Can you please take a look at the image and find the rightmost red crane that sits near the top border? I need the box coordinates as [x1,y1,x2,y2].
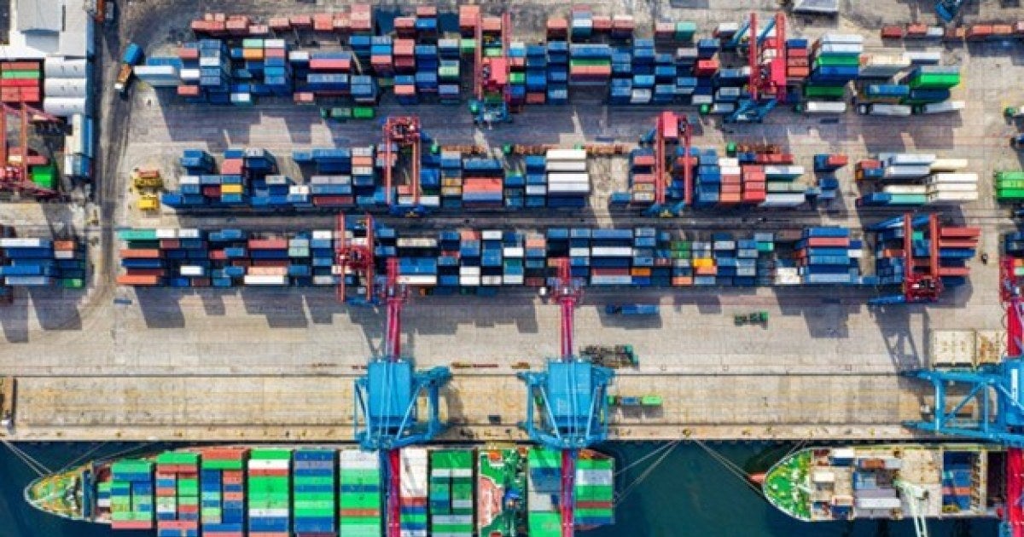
[726,12,785,125]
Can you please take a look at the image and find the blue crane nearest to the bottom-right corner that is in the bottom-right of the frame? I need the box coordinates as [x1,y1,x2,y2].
[889,255,1024,537]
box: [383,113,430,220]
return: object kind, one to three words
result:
container crane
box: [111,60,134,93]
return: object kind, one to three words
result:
truck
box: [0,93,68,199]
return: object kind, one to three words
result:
container crane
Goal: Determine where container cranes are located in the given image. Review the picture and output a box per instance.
[0,93,68,199]
[383,113,430,220]
[869,208,941,320]
[473,11,514,124]
[726,12,785,125]
[336,205,387,303]
[889,255,1024,537]
[642,112,693,219]
[518,258,607,537]
[354,258,452,537]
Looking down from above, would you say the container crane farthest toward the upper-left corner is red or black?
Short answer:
red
